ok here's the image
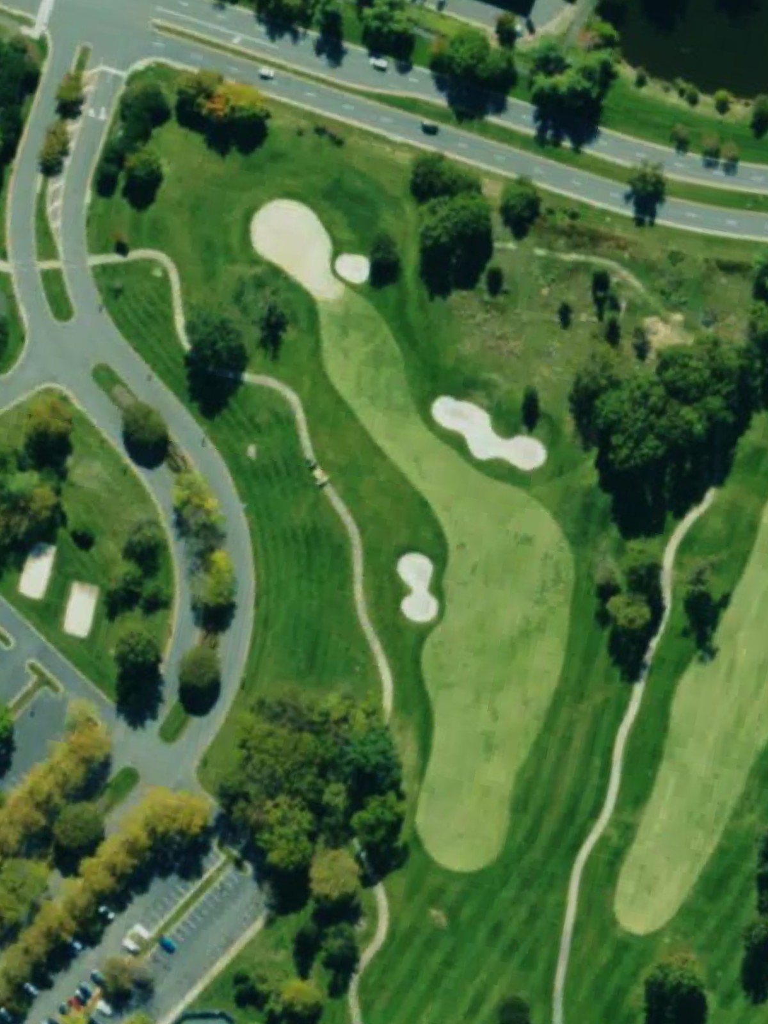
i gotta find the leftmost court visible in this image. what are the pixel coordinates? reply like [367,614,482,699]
[17,543,57,601]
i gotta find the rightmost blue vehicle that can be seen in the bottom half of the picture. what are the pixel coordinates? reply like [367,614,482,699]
[160,938,175,952]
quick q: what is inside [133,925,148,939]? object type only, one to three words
car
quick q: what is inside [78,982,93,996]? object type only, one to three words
car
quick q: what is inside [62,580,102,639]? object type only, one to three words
sports court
